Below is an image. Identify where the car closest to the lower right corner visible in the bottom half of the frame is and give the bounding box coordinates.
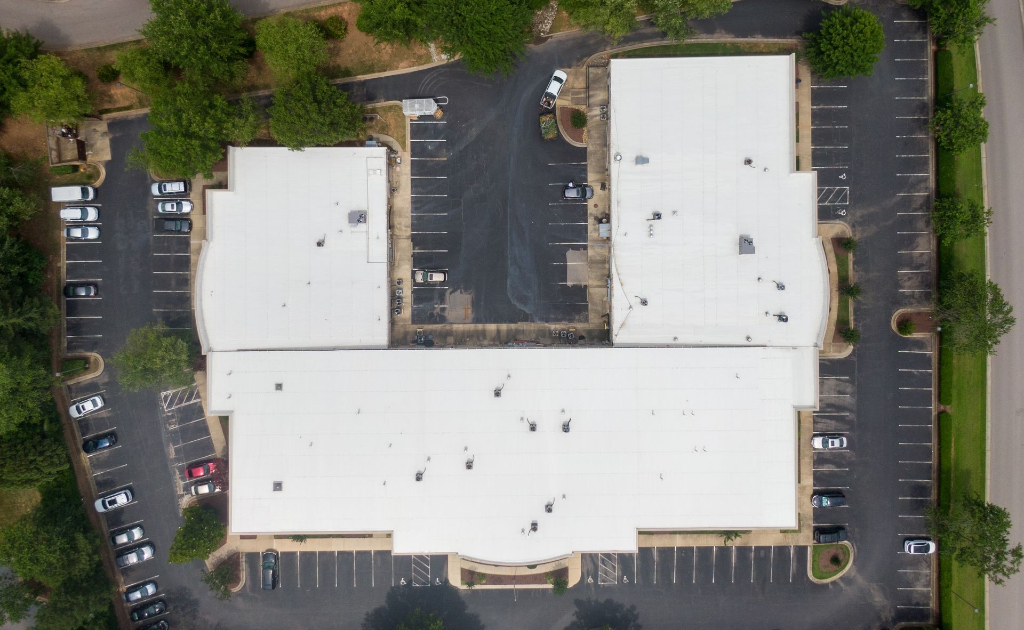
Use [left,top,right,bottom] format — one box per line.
[903,539,935,555]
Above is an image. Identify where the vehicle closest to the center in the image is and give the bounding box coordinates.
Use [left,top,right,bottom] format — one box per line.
[415,268,448,284]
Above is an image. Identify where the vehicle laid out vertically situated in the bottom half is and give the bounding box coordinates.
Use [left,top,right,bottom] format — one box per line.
[261,549,278,589]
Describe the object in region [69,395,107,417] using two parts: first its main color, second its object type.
white car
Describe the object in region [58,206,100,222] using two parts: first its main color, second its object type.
white car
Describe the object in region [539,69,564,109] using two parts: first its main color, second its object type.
white truck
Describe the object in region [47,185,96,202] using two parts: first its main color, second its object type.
white vehicle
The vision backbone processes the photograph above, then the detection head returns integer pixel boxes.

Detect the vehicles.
[261,549,278,589]
[810,492,847,509]
[563,180,593,200]
[64,282,100,298]
[190,479,227,495]
[810,435,847,450]
[47,185,96,202]
[82,432,119,453]
[184,460,222,479]
[109,524,147,545]
[158,198,195,214]
[152,180,192,196]
[539,69,564,109]
[94,489,135,512]
[114,543,158,568]
[122,580,160,603]
[69,395,107,417]
[129,600,169,622]
[813,527,846,544]
[903,539,935,555]
[64,225,102,240]
[415,268,448,284]
[153,217,194,234]
[58,206,100,222]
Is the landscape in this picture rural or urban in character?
urban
